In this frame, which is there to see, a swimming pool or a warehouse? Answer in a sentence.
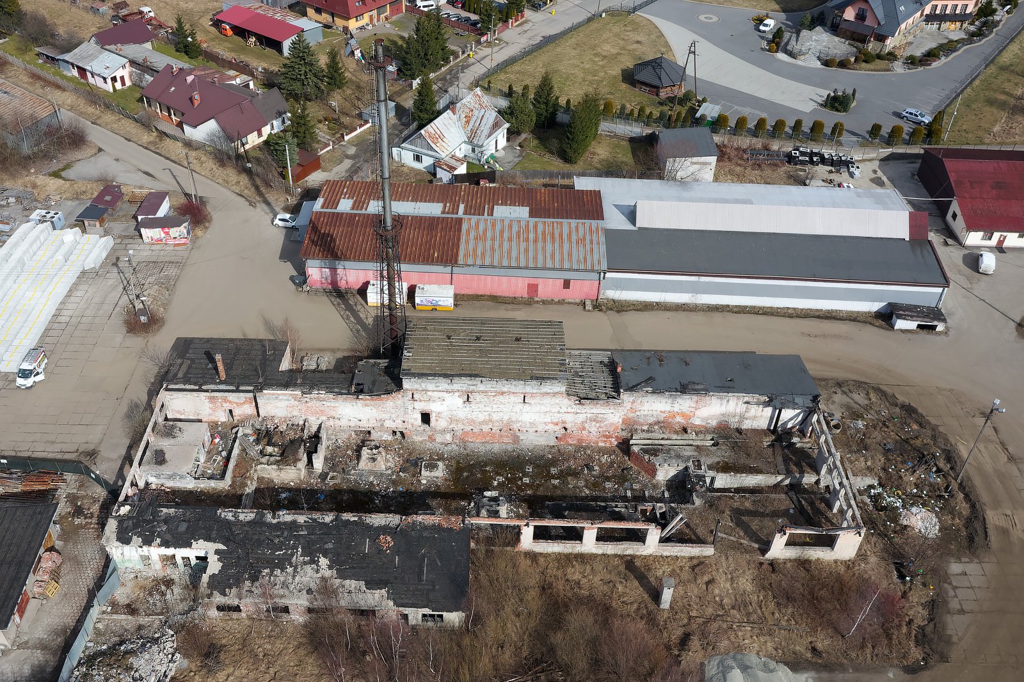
The image shows a warehouse.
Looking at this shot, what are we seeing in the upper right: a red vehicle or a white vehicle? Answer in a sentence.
What appears in the upper right is a white vehicle.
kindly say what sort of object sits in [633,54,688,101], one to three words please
gazebo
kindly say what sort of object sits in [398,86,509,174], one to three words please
house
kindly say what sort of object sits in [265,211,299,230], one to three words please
car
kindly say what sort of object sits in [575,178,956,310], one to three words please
warehouse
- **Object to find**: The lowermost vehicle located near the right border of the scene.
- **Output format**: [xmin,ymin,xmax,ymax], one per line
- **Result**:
[978,244,1000,270]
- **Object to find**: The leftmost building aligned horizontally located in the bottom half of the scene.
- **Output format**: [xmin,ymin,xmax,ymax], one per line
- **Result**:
[96,316,879,631]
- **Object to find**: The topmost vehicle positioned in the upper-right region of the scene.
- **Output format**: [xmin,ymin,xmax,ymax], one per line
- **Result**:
[758,16,777,33]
